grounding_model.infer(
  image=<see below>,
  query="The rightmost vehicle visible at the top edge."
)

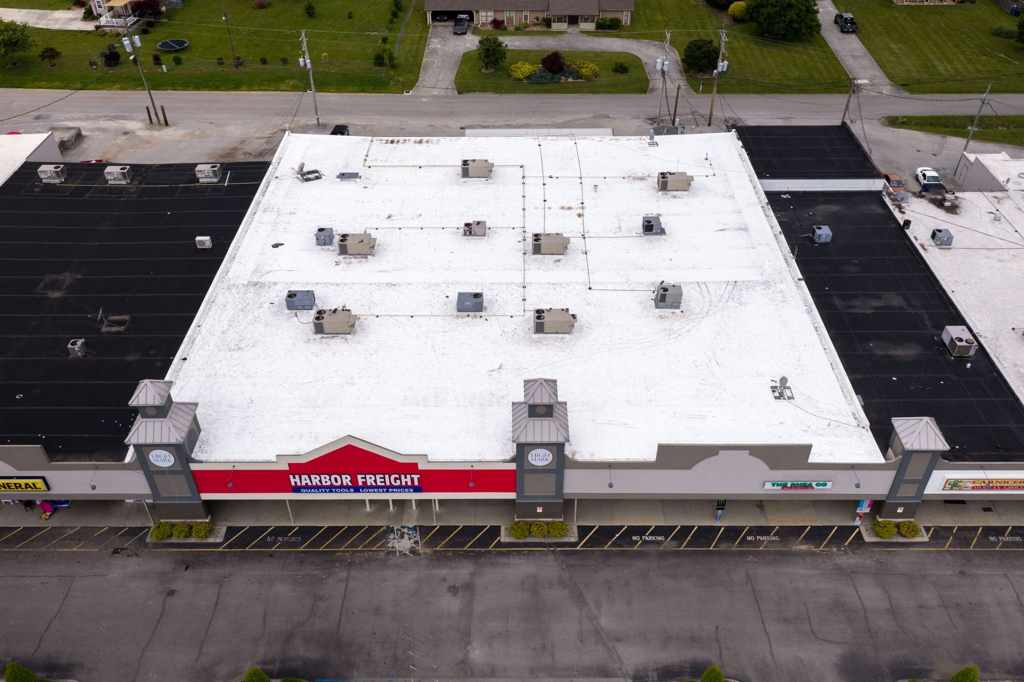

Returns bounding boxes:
[836,10,864,30]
